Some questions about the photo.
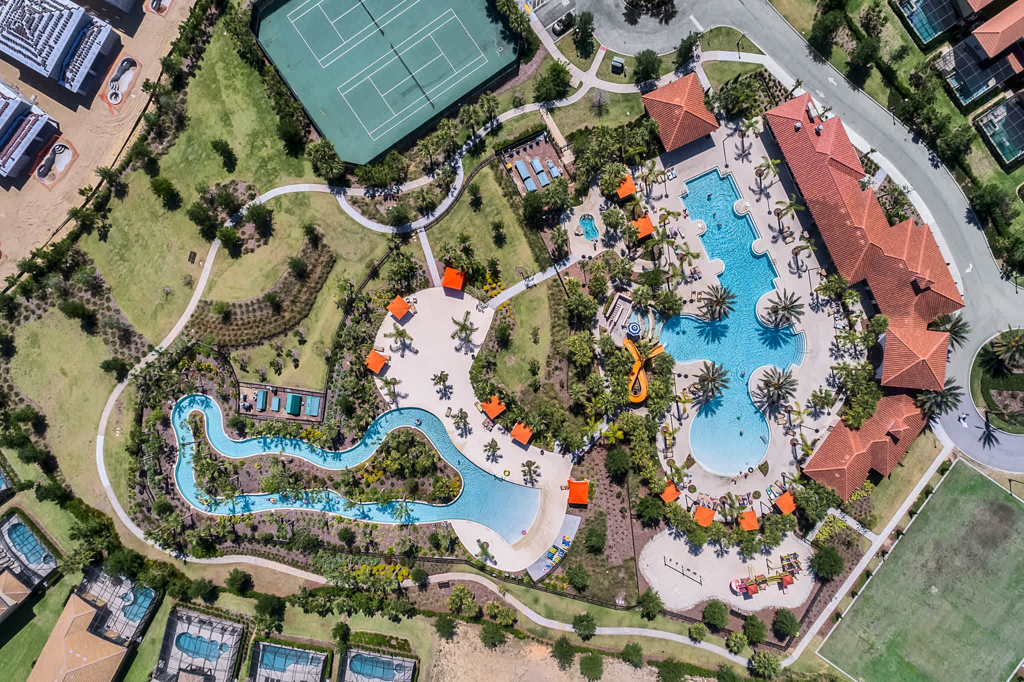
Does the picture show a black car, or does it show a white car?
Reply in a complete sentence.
The one in the frame is a black car.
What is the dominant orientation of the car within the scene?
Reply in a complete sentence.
The car runs on a diagonal in the image.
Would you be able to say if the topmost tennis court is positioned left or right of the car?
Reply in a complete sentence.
Looking at the photo, the topmost tennis court lies to the left of the car.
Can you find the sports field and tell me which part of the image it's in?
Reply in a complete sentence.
The sports field is in the bottom right part of the image.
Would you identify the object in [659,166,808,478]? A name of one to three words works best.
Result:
swimming pool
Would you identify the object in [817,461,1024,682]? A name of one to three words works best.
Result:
sports field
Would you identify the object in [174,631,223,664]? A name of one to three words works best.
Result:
swimming pool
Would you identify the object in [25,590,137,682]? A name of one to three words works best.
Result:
house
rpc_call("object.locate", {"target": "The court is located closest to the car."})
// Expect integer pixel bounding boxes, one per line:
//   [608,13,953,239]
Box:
[258,0,519,164]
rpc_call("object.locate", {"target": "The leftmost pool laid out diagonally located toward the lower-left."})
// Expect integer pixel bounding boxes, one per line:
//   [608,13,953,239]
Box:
[6,522,46,566]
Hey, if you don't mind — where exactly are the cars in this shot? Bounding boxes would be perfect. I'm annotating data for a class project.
[551,11,576,37]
